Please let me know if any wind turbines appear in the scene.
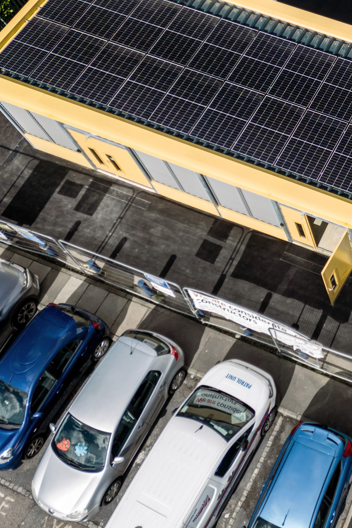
No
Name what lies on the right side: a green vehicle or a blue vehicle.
blue vehicle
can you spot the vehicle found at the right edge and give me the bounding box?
[242,418,352,528]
